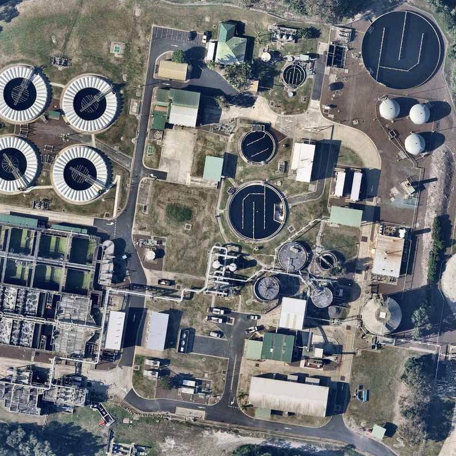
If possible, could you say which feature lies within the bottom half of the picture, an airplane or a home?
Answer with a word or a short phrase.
home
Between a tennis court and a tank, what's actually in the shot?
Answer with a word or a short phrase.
tank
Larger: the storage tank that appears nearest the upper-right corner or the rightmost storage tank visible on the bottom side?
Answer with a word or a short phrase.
the storage tank that appears nearest the upper-right corner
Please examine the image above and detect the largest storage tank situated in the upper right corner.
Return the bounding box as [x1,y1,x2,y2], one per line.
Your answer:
[360,8,445,92]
